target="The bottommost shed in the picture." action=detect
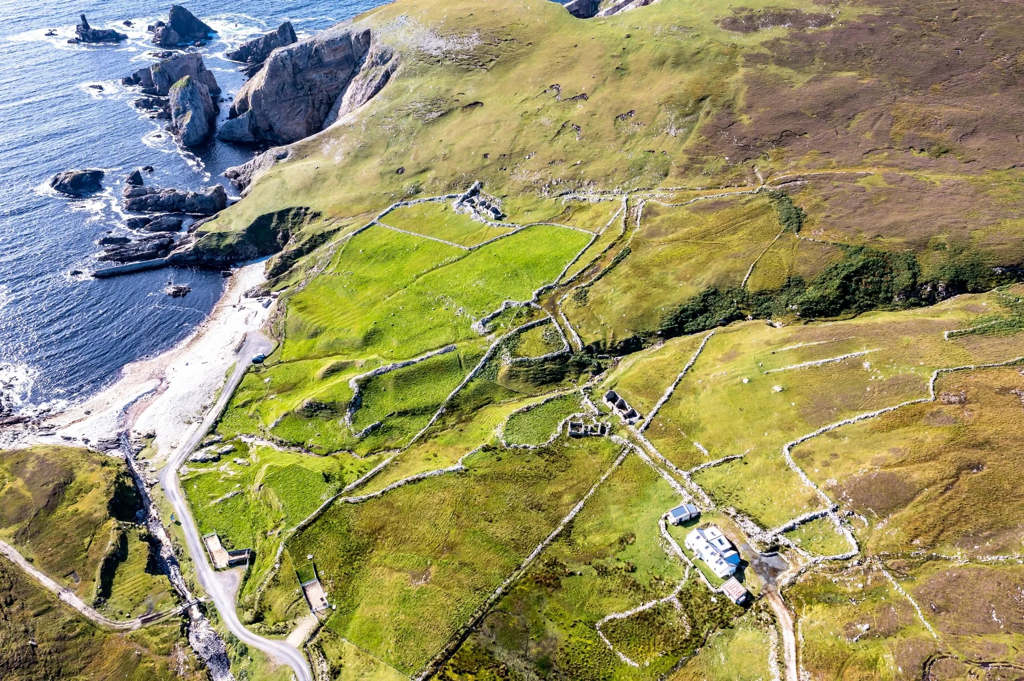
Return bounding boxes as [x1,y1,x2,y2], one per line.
[722,578,749,607]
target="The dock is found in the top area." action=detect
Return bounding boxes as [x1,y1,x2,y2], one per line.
[95,255,172,278]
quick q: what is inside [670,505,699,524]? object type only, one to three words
shed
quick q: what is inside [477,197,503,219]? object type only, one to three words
house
